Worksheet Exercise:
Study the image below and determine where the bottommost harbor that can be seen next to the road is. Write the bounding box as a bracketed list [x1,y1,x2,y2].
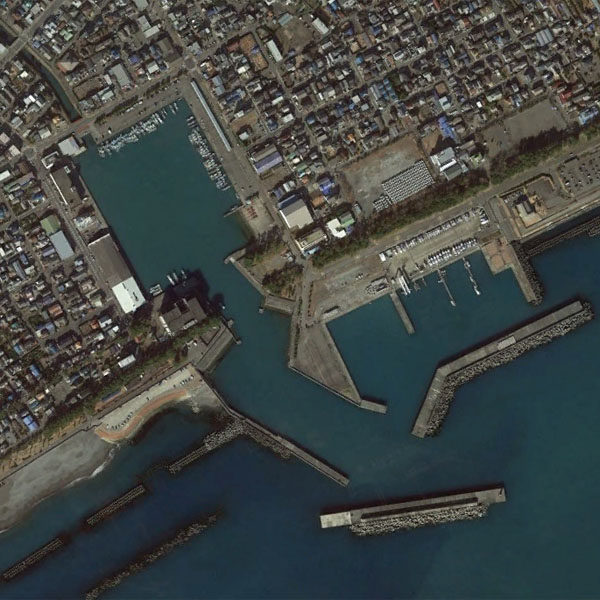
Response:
[325,210,492,322]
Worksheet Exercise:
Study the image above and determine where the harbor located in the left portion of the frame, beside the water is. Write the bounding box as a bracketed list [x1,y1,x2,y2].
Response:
[70,80,296,318]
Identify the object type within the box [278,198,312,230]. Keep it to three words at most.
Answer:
building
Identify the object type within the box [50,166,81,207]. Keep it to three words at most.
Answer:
building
